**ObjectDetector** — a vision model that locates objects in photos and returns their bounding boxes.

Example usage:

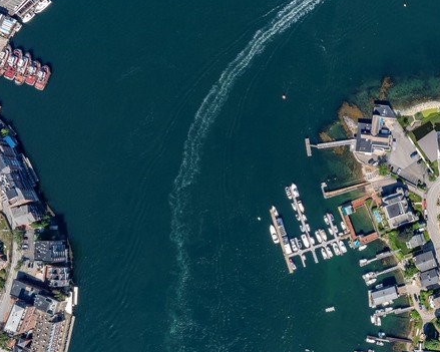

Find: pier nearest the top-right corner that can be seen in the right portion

[305,138,356,157]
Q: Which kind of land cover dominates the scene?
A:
water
